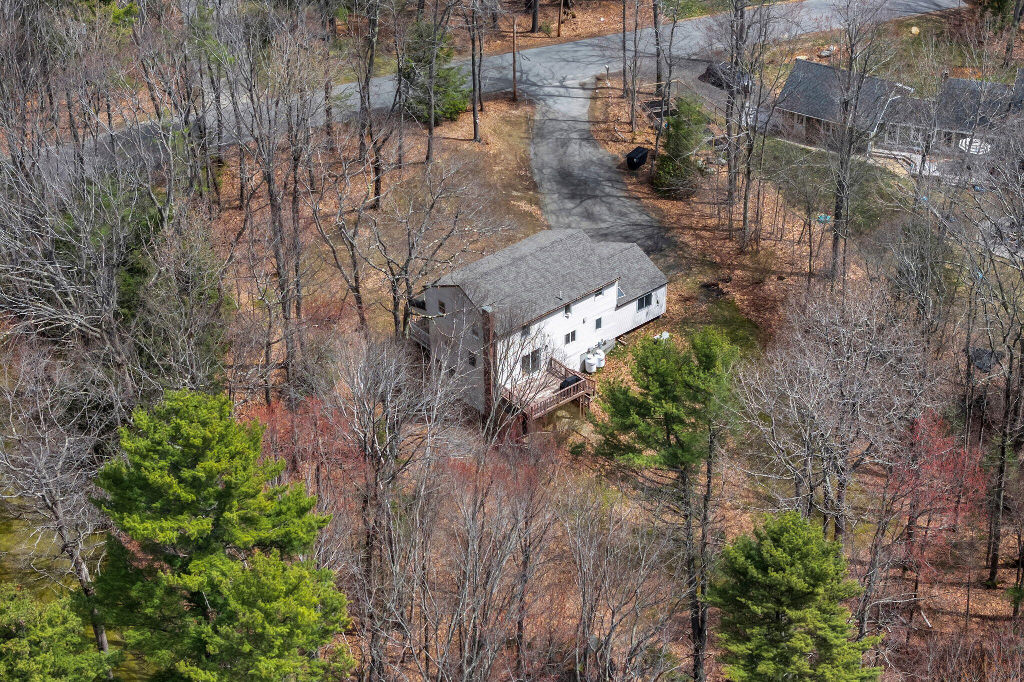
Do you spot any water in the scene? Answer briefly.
No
